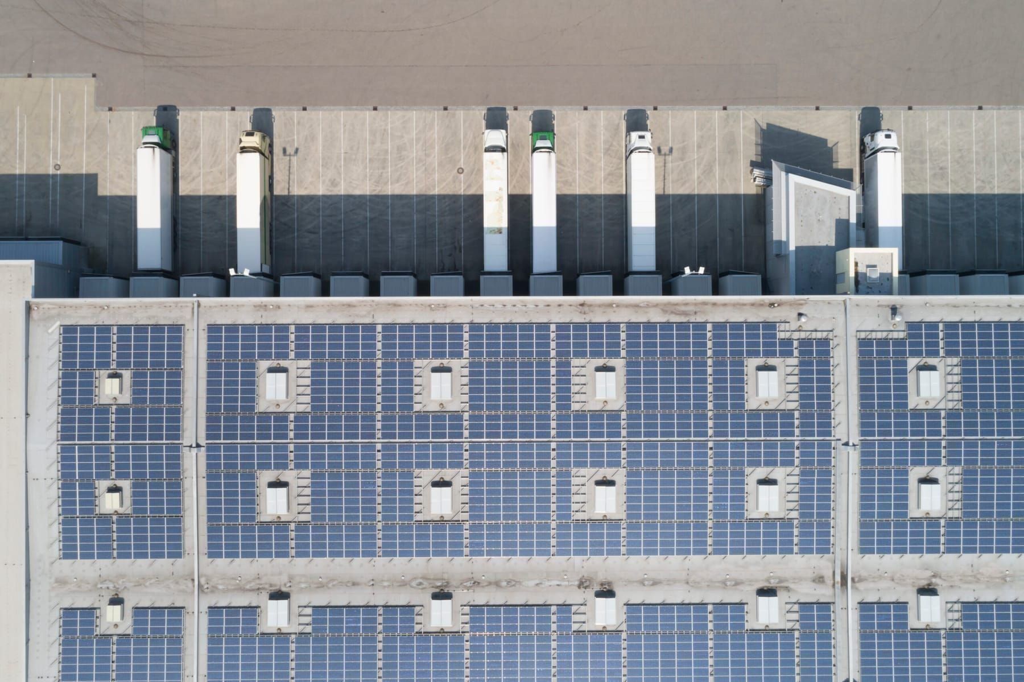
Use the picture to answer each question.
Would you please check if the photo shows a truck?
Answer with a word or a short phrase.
Yes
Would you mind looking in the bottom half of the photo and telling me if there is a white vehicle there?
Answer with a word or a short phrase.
No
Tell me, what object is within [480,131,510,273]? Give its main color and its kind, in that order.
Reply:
white truck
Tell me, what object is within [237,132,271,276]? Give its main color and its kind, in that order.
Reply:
white truck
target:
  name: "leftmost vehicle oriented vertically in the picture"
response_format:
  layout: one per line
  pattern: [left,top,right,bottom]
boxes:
[137,126,176,273]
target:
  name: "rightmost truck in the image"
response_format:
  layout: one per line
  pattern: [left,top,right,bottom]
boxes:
[860,132,902,272]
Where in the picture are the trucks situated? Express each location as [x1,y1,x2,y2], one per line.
[137,126,176,273]
[237,132,271,276]
[624,133,655,274]
[528,131,558,274]
[860,132,902,272]
[480,131,510,273]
